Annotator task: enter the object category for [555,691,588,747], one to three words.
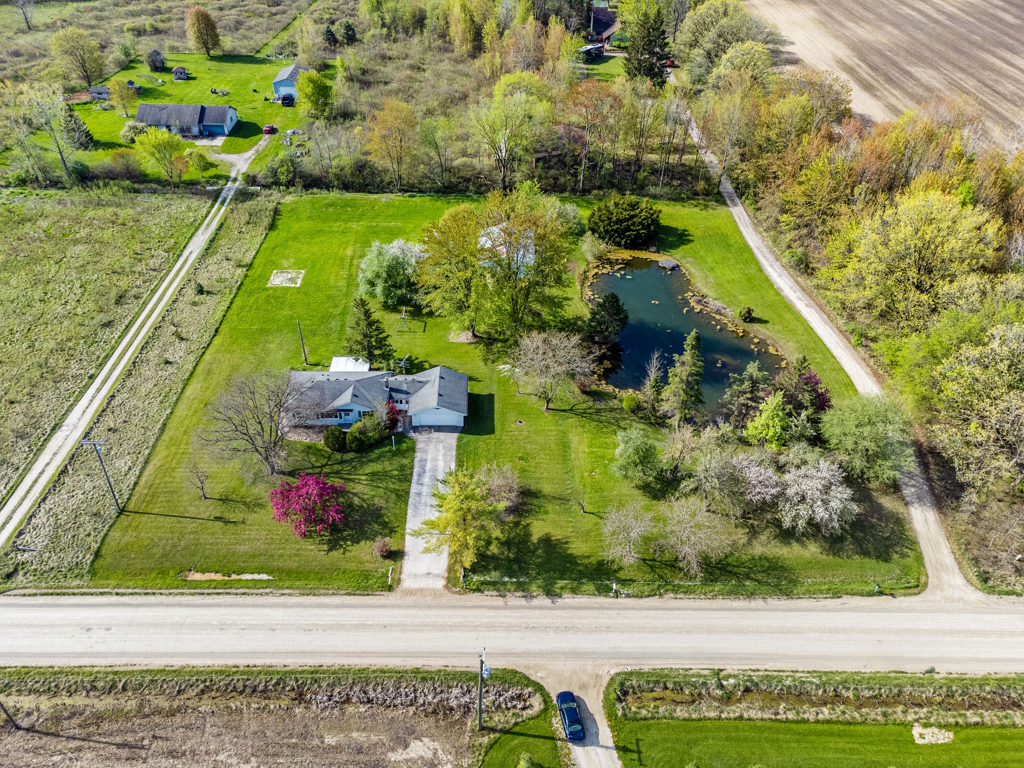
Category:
car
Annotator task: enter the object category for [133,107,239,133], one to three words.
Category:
house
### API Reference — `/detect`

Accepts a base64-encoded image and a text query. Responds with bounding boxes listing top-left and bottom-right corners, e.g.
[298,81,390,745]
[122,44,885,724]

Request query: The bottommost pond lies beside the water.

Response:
[588,249,788,427]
